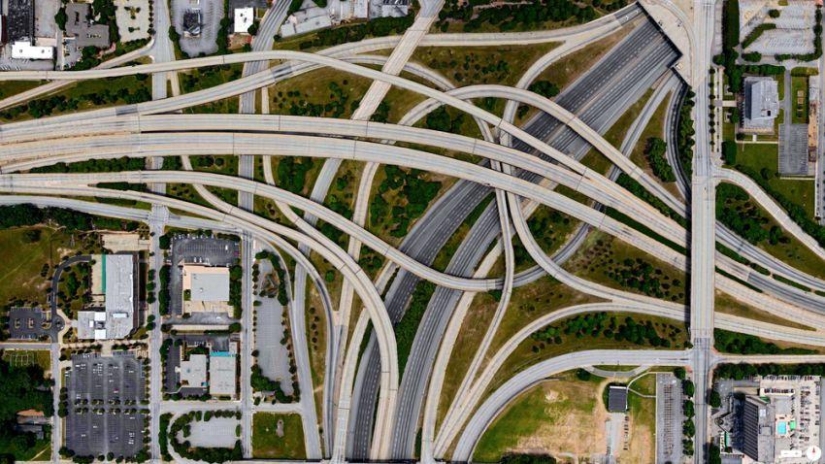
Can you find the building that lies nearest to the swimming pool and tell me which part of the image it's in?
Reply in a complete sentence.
The building that lies nearest to the swimming pool is located in the bottom right region of the scene.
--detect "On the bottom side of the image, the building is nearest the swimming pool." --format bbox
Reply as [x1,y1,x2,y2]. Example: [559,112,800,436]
[744,397,777,464]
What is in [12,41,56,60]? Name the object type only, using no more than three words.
building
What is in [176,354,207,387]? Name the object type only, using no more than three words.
building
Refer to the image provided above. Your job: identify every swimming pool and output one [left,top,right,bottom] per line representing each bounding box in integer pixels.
[777,415,796,438]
